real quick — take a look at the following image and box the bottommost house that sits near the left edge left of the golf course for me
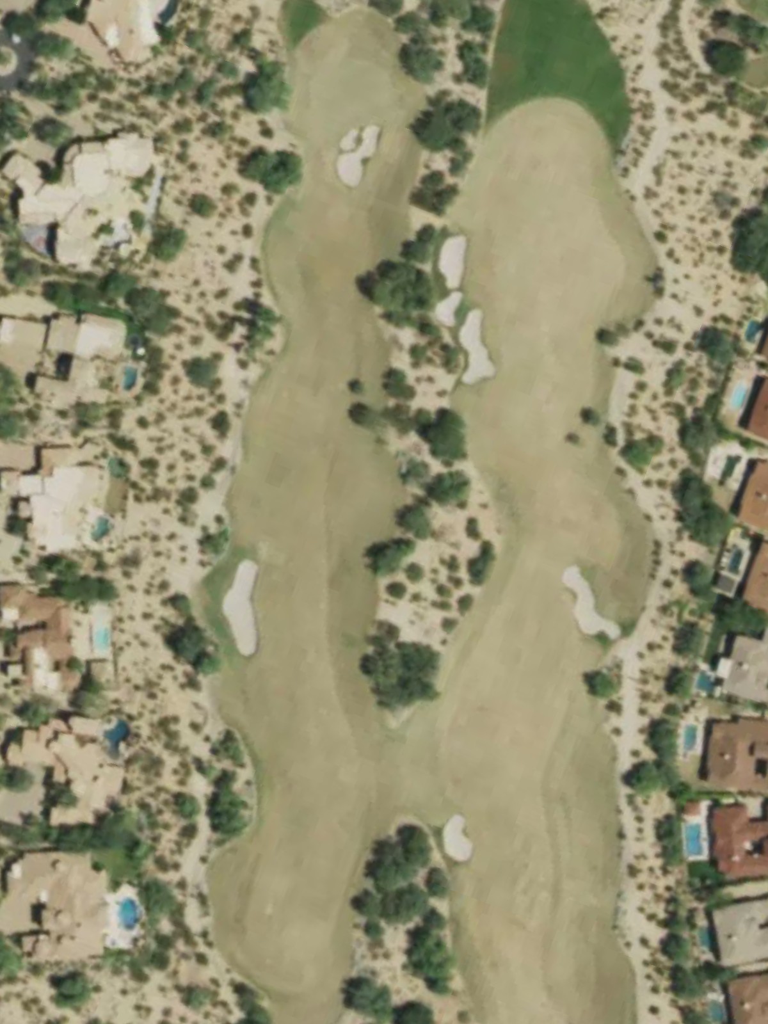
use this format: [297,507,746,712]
[0,852,106,961]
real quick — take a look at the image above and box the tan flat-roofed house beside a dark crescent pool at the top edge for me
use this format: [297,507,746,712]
[88,0,160,64]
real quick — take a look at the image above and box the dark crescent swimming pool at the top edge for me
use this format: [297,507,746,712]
[159,0,181,26]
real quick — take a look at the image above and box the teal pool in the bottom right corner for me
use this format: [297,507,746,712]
[707,993,728,1024]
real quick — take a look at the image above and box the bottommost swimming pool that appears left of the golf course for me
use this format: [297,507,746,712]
[105,883,145,947]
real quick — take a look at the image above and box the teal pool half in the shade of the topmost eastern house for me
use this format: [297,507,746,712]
[742,316,764,351]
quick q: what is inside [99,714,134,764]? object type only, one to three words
swimming pool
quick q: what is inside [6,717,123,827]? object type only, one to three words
house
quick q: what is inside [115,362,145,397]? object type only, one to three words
swimming pool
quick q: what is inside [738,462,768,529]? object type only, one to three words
house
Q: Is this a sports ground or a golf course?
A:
golf course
